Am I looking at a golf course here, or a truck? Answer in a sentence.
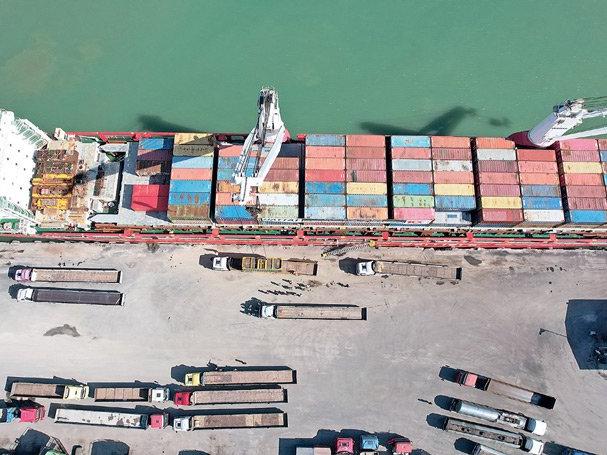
This aerial view contains a truck.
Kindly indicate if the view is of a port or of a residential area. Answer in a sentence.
What you see here is a port.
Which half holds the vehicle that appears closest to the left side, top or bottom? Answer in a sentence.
You can find the vehicle that appears closest to the left side in the bottom half.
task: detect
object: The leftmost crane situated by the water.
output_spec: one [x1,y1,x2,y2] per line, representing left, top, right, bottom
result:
[230,86,291,212]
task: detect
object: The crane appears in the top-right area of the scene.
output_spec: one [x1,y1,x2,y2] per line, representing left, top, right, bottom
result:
[506,91,607,150]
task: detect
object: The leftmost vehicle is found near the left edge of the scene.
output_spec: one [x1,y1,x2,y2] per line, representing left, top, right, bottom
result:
[0,403,53,423]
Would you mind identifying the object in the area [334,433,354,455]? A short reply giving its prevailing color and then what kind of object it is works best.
pink vehicle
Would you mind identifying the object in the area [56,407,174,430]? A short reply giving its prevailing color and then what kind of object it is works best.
white truck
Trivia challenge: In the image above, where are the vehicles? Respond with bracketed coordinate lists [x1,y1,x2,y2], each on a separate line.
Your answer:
[355,261,462,280]
[0,403,53,423]
[452,369,560,411]
[261,303,368,319]
[442,412,544,454]
[314,444,330,455]
[392,436,414,455]
[360,431,380,455]
[11,382,101,401]
[174,412,287,432]
[11,267,123,284]
[91,386,174,403]
[334,433,354,455]
[213,257,317,274]
[587,343,607,363]
[297,443,314,455]
[445,395,547,435]
[174,388,288,406]
[14,288,124,305]
[185,369,296,387]
[56,407,174,430]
